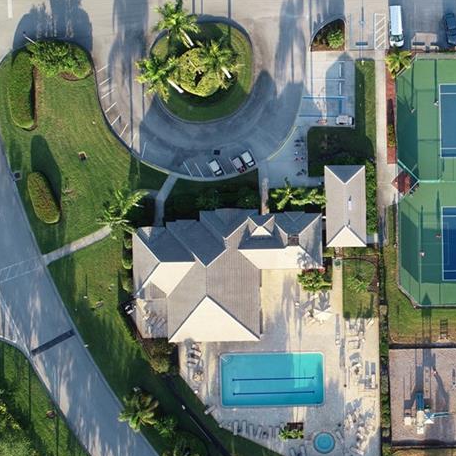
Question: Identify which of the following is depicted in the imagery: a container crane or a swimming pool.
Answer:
swimming pool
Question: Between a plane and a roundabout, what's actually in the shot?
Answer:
roundabout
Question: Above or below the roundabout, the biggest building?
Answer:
below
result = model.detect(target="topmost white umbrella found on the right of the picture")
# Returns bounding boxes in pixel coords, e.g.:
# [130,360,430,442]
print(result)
[314,308,330,324]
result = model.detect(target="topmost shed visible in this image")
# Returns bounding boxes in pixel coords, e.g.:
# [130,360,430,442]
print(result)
[325,165,367,247]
